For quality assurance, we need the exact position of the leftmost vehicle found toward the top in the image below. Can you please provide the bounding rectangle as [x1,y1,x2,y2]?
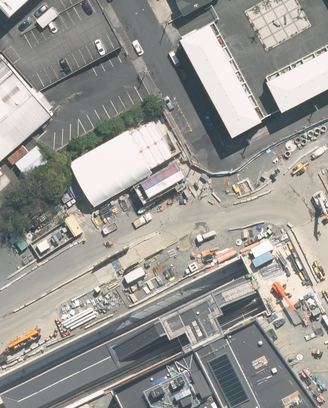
[17,17,33,32]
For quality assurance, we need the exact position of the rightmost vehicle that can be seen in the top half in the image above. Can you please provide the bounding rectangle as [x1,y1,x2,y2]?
[308,144,328,162]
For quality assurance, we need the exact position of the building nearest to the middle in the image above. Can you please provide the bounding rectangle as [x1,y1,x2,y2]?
[140,160,184,200]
